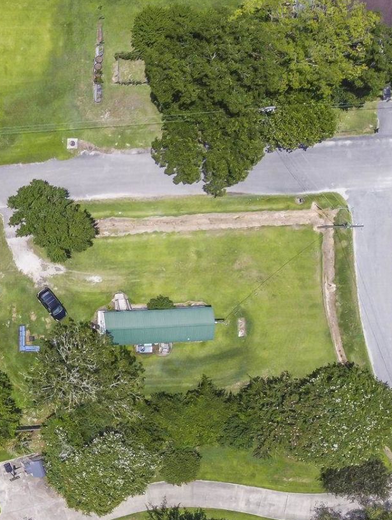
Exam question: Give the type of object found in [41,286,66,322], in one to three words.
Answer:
car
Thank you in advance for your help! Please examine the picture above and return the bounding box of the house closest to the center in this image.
[97,306,215,344]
